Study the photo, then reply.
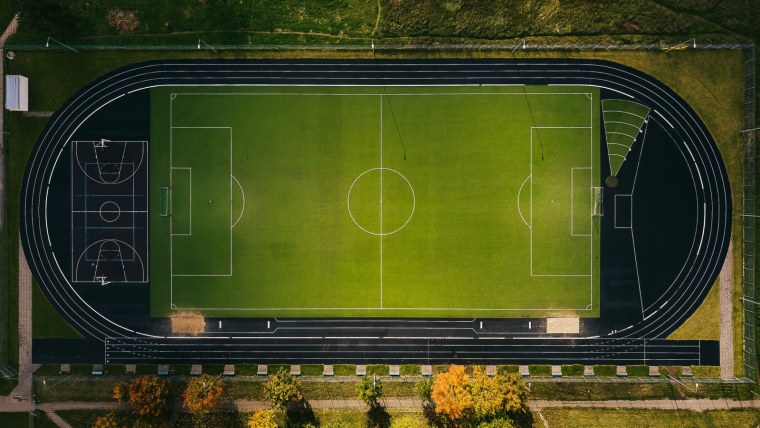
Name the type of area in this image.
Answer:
sports ground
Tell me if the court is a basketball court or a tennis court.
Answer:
basketball court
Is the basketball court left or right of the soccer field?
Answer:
on the left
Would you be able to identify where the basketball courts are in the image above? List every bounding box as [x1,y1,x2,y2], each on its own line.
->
[71,141,148,283]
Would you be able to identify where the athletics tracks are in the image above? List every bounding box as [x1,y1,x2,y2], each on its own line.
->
[20,59,731,366]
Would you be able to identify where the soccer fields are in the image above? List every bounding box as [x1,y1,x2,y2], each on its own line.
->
[150,87,600,317]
